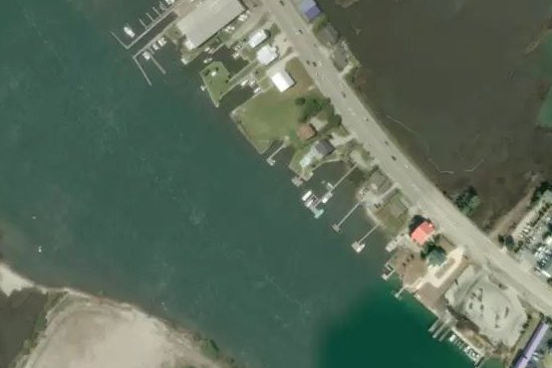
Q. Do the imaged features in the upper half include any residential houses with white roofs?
Yes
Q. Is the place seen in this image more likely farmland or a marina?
marina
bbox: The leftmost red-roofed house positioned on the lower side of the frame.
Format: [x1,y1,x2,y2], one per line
[409,222,437,247]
